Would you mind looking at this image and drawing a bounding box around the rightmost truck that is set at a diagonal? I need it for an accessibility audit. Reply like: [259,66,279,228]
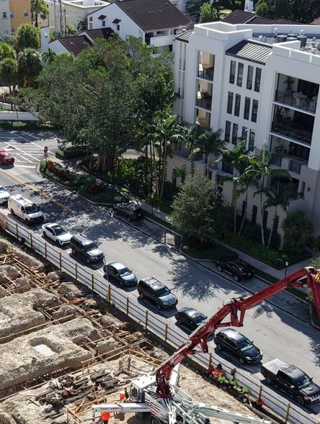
[261,363,320,411]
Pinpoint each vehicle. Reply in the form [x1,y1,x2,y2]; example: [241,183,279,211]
[99,263,141,291]
[213,330,264,369]
[5,192,43,224]
[41,225,73,249]
[92,263,320,424]
[0,184,8,205]
[219,258,263,283]
[170,306,206,334]
[68,235,107,267]
[135,280,179,313]
[261,363,320,411]
[0,152,18,168]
